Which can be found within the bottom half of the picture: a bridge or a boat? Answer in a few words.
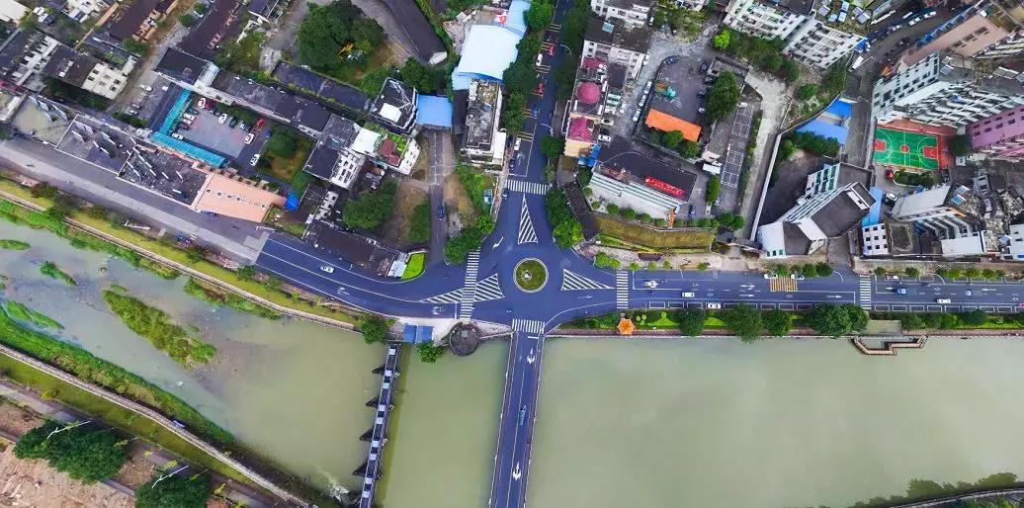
bridge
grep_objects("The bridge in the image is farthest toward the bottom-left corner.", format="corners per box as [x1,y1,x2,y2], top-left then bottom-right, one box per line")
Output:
[362,344,402,508]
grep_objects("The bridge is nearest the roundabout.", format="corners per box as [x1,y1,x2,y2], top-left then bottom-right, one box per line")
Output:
[489,332,544,508]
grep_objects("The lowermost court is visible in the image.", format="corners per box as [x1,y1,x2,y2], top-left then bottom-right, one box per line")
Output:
[873,123,957,170]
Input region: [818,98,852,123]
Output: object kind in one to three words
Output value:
shed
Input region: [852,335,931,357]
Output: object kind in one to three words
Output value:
pier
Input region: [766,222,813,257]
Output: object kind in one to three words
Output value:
house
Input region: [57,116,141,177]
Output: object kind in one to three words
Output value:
building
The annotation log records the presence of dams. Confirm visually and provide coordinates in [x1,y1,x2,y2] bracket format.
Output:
[350,337,413,508]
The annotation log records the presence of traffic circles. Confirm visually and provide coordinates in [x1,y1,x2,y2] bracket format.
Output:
[514,258,548,292]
